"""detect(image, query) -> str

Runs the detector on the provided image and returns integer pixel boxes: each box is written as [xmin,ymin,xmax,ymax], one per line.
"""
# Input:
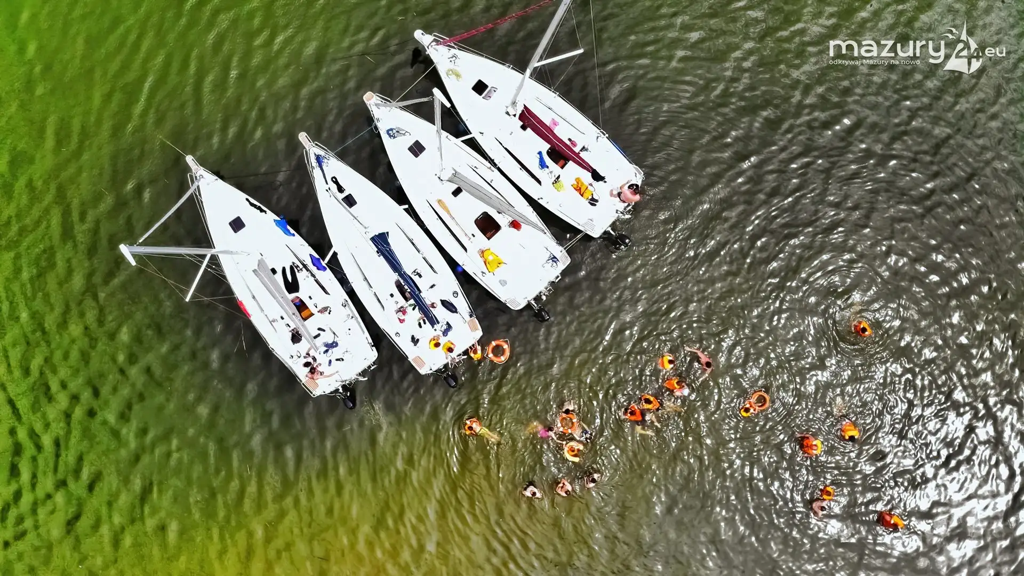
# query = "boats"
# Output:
[362,83,572,320]
[119,151,377,407]
[300,130,484,388]
[418,0,646,245]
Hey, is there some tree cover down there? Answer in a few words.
No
